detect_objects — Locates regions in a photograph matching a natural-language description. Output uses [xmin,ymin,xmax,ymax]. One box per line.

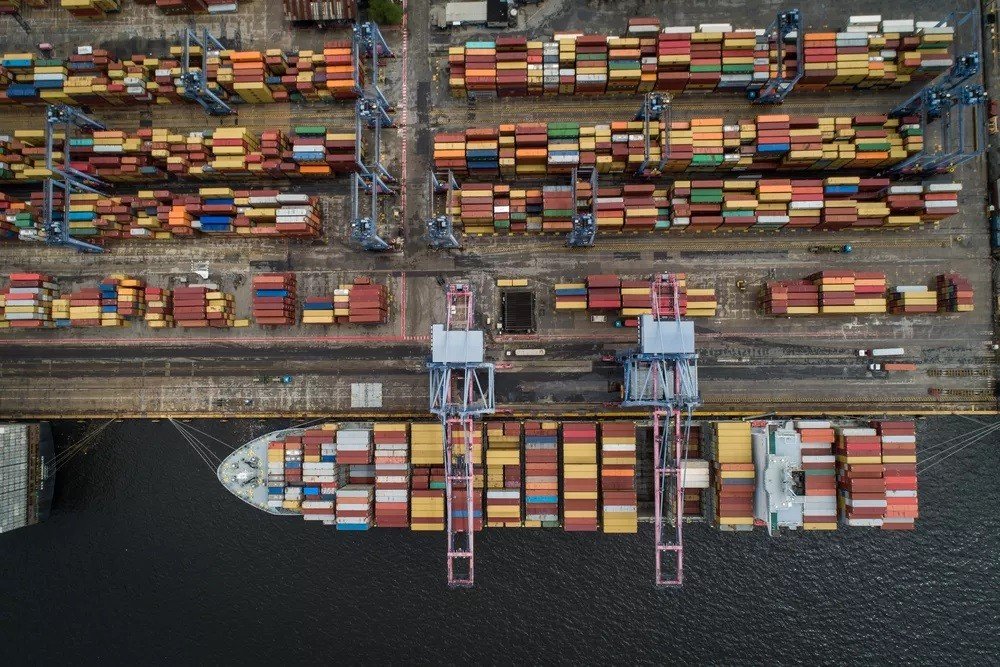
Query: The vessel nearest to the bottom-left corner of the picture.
[0,420,61,532]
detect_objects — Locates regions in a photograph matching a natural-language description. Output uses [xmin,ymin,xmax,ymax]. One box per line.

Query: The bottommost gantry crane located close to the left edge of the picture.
[44,177,105,255]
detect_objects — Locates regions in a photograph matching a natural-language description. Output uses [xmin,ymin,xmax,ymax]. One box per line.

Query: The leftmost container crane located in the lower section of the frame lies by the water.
[425,274,512,587]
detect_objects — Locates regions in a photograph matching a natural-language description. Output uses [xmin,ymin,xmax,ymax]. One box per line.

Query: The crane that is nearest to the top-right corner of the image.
[916,5,979,97]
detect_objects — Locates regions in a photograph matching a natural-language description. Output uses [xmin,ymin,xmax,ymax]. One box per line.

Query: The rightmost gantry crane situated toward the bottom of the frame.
[604,271,705,587]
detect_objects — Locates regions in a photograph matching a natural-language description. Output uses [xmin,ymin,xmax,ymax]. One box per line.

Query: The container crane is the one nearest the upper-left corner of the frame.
[45,101,105,185]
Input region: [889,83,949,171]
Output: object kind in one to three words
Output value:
container crane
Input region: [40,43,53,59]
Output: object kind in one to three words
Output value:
vehicle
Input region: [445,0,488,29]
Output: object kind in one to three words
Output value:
building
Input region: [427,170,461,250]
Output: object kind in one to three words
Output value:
container crane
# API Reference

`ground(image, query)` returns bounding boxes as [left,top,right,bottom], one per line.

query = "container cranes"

[889,83,949,171]
[925,82,986,171]
[425,274,512,587]
[354,95,393,180]
[427,170,461,250]
[604,271,705,587]
[183,23,233,111]
[916,5,979,97]
[632,89,670,176]
[44,177,105,255]
[758,7,804,101]
[45,101,105,185]
[352,171,390,251]
[566,168,601,248]
[353,18,391,108]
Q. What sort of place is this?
port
